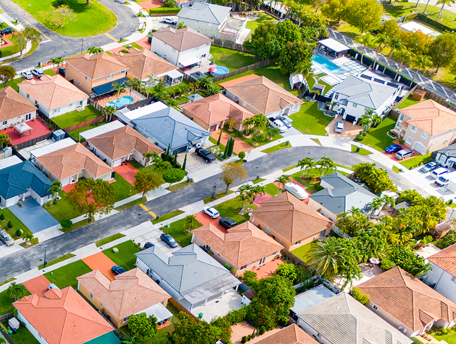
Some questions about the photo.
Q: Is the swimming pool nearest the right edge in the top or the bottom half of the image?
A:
top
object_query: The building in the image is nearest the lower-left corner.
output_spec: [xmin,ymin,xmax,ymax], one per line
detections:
[15,282,120,344]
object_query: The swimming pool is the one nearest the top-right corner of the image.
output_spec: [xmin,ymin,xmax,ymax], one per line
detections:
[311,54,348,74]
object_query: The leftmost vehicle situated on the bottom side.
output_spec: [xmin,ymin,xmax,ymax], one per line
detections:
[0,227,16,245]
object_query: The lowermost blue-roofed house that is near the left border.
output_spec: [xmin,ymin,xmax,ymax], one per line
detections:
[0,155,51,208]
